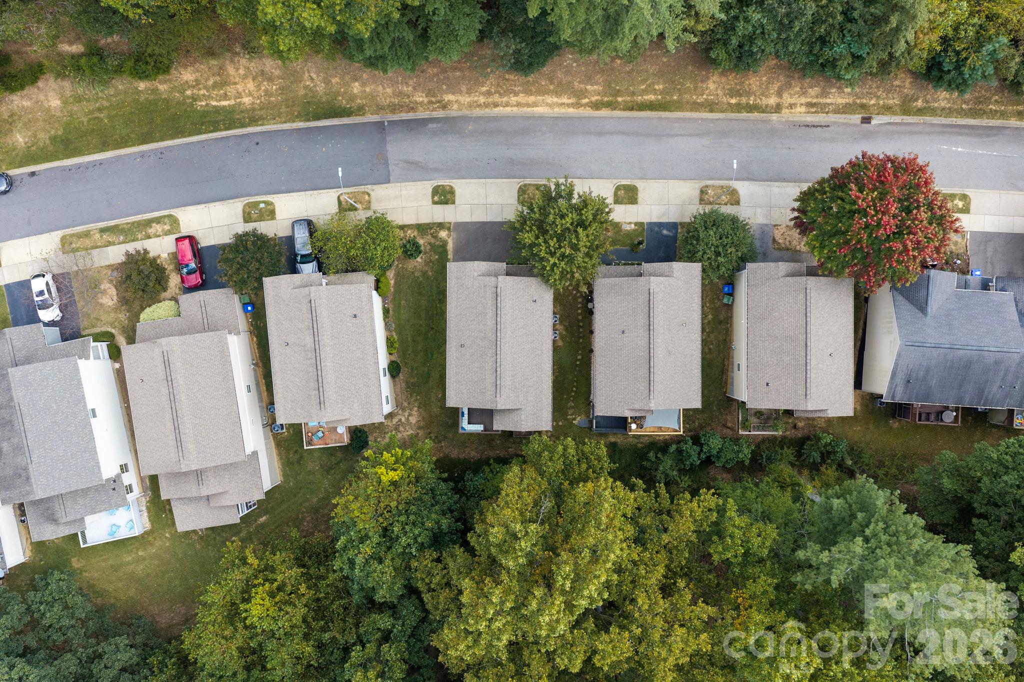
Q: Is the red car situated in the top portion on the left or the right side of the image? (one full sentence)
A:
The red car situated in the top portion appears in the left half of the scene.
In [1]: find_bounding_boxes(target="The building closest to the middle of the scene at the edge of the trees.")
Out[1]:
[445,261,554,432]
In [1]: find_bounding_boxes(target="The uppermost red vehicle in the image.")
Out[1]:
[175,234,209,289]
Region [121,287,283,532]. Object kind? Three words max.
house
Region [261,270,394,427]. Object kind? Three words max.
house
